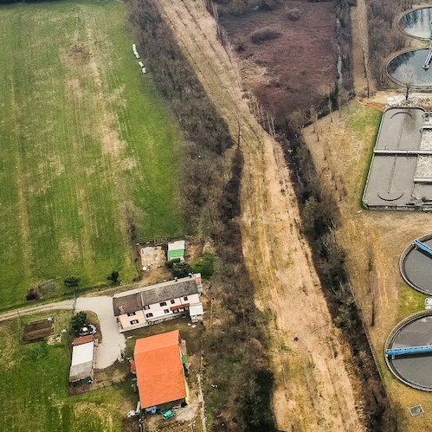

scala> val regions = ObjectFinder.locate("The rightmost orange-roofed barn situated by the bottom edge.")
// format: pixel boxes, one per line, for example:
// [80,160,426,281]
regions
[131,336,196,416]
